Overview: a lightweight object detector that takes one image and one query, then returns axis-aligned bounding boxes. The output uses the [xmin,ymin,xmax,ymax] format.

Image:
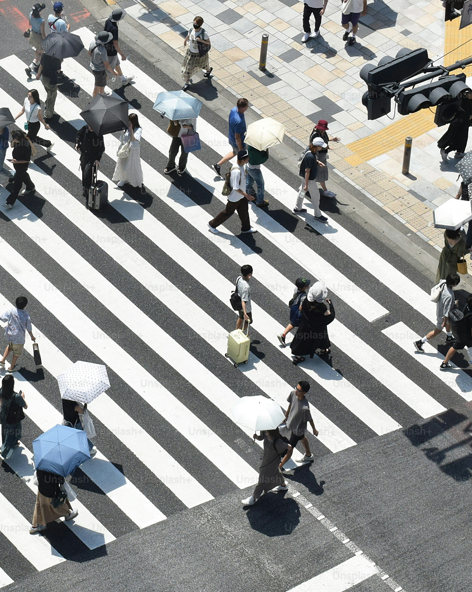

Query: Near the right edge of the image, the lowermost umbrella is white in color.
[432,199,472,237]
